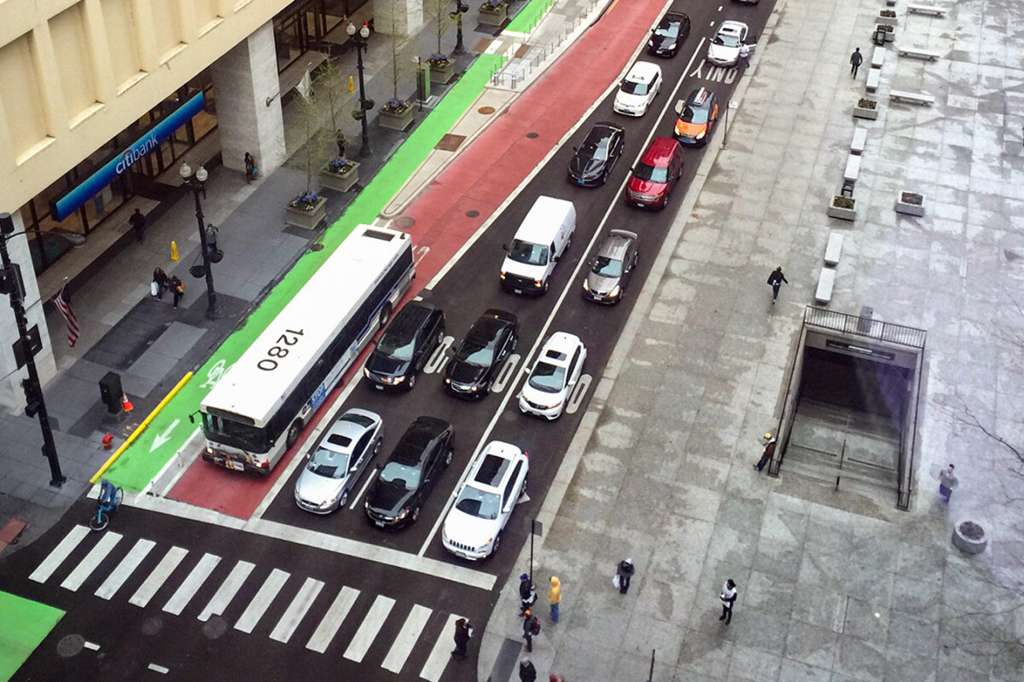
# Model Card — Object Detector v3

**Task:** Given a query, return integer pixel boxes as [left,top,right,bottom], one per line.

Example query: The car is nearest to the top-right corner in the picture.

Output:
[707,21,761,67]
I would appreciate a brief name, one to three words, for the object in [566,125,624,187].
car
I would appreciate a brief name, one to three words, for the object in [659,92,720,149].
car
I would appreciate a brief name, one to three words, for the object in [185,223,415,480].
bus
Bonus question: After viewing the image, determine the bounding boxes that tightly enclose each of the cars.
[644,13,687,56]
[354,414,454,534]
[566,125,624,187]
[659,92,720,149]
[359,295,448,395]
[436,442,530,565]
[512,327,590,422]
[434,309,516,404]
[623,137,684,211]
[578,227,640,306]
[613,59,661,114]
[283,405,382,517]
[707,21,761,67]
